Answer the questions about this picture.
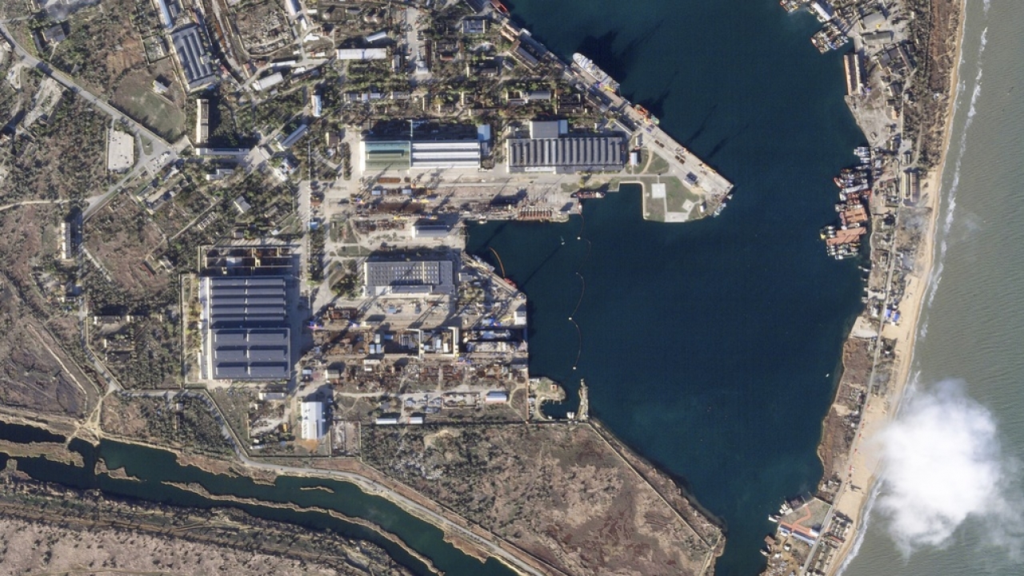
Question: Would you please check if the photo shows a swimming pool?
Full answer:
No, this view has no swimming pool in it.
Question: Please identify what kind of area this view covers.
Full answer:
The area seen from above is a port.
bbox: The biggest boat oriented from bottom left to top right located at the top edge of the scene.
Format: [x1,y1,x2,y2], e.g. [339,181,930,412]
[813,22,838,40]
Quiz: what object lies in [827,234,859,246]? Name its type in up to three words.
ship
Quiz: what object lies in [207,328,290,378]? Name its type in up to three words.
building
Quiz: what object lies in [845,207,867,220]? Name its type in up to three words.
ship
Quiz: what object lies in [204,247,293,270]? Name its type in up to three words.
building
